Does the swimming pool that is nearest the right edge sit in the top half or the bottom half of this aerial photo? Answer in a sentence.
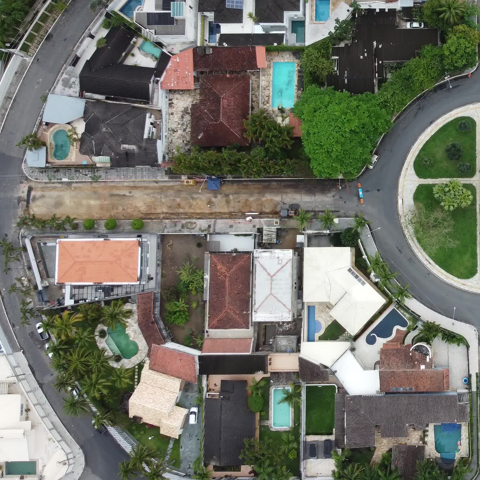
The bottom half of the photo is where the swimming pool that is nearest the right edge is.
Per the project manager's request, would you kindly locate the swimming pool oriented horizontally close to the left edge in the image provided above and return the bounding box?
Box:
[3,460,37,476]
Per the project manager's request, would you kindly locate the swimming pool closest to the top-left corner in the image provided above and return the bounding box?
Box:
[117,0,145,19]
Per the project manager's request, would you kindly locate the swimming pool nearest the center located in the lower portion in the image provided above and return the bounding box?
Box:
[307,305,323,340]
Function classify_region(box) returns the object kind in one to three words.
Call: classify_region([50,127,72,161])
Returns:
swimming pool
